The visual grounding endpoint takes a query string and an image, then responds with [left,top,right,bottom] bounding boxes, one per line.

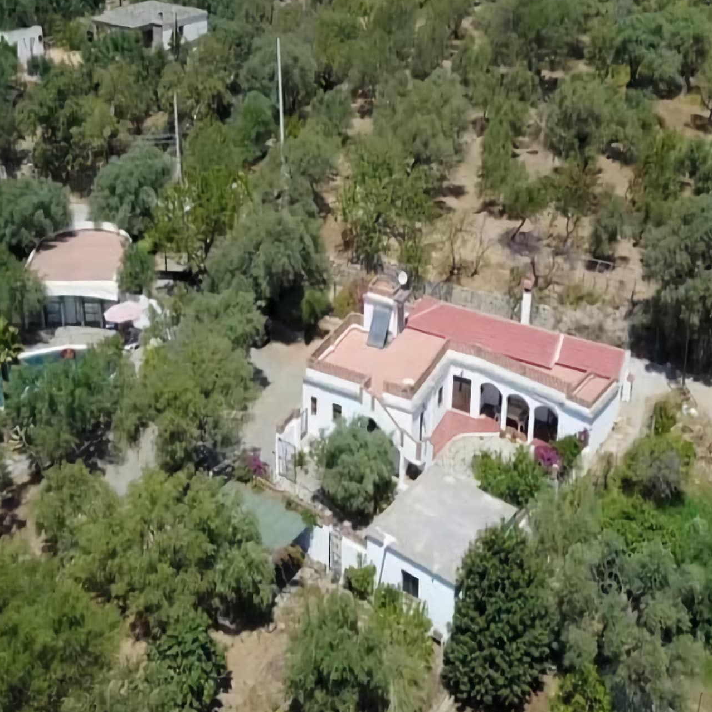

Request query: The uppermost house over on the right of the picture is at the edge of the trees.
[301,279,633,492]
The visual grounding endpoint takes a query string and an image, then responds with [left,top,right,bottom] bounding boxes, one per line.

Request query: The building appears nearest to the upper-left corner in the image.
[91,1,206,53]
